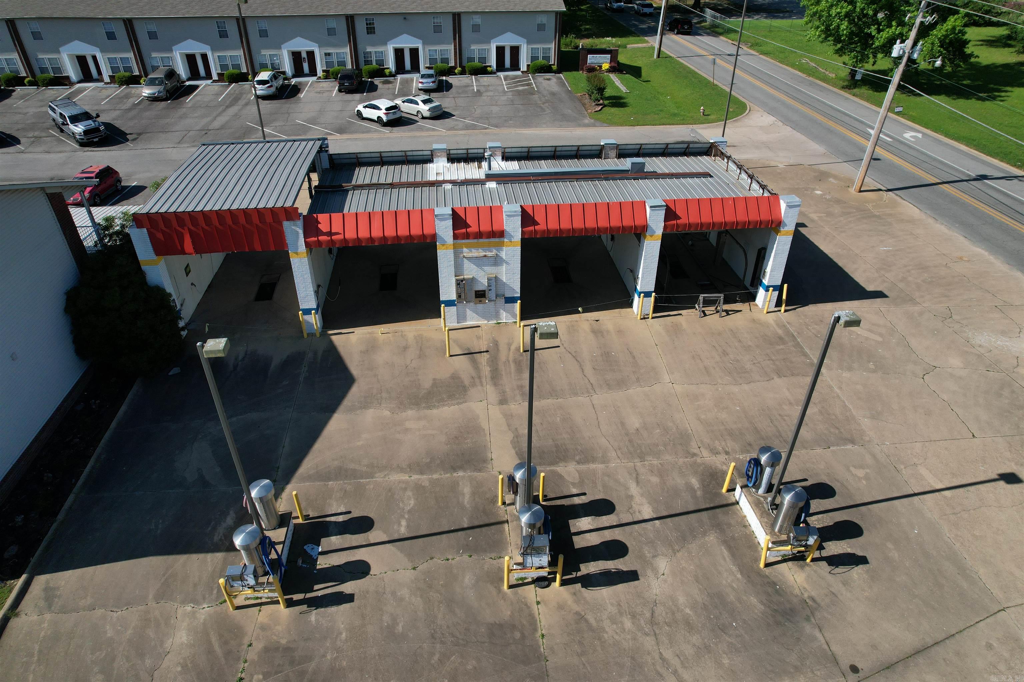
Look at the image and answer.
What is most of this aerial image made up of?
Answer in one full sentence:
What you mostly see from above here is paved ground.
